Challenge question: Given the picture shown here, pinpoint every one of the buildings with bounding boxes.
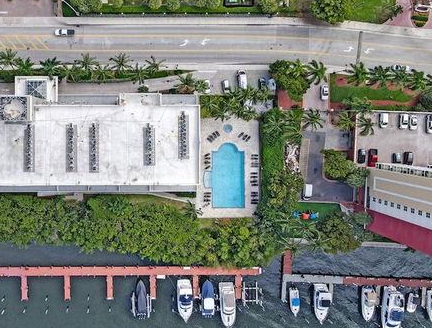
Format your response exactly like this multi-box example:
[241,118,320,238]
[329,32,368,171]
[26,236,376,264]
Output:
[358,166,432,254]
[0,75,200,194]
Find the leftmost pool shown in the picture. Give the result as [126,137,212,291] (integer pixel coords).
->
[195,118,259,217]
